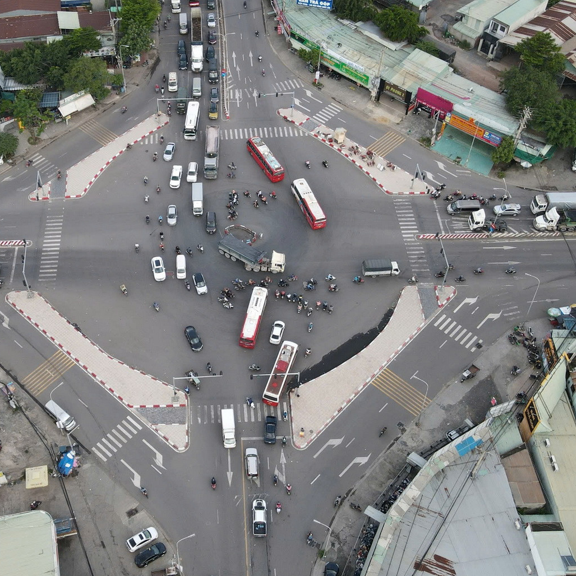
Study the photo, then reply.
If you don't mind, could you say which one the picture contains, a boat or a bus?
bus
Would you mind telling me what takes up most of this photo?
paved ground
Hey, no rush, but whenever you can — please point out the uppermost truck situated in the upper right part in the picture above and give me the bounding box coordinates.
[429,33,470,59]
